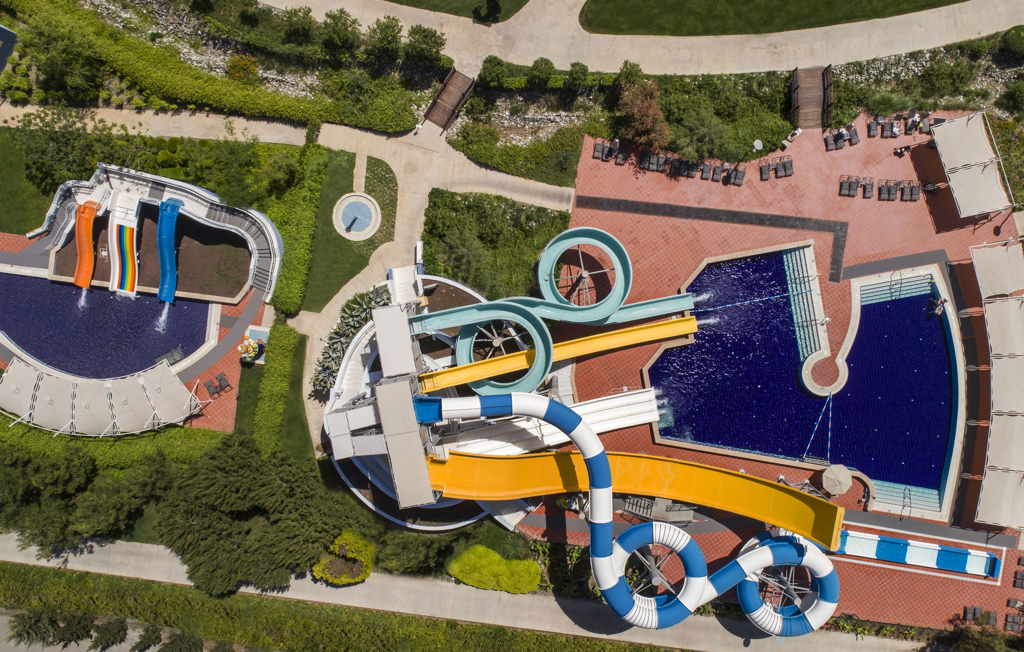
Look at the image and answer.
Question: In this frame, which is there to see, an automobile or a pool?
pool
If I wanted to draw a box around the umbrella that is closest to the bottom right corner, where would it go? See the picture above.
[818,464,852,495]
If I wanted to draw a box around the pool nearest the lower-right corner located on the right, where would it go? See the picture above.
[641,239,968,523]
